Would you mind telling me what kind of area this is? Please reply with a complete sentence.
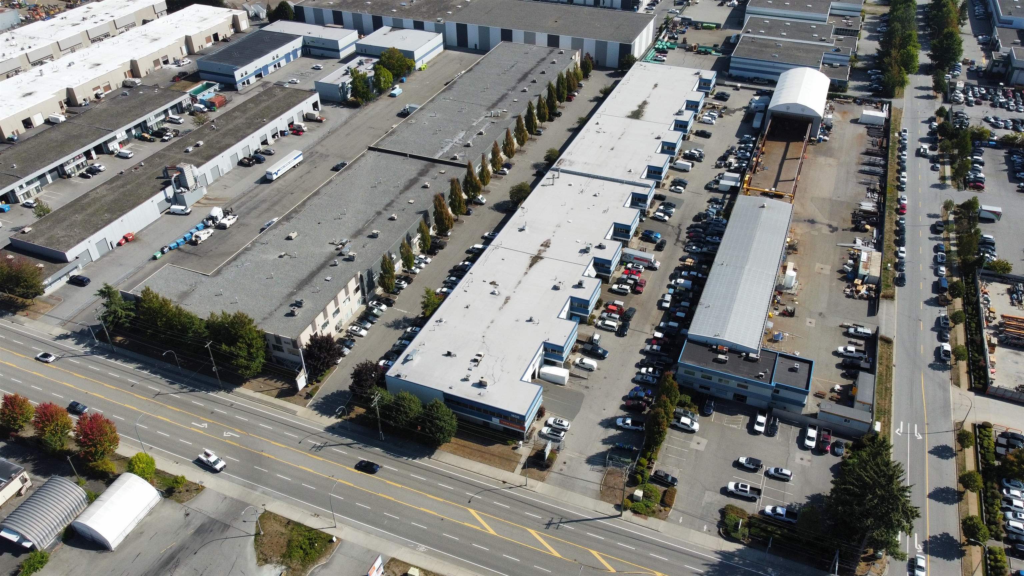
This image shows an industrial area.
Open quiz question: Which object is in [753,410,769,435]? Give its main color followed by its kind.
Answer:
white vehicle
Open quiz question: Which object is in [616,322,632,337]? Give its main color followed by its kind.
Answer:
black car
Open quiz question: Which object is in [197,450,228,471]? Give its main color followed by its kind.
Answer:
white truck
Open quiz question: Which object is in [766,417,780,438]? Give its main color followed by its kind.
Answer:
black car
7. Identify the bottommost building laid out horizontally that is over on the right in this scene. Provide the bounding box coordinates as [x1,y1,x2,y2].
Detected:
[819,398,874,432]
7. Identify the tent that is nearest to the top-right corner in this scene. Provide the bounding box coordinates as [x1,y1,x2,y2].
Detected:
[859,106,888,123]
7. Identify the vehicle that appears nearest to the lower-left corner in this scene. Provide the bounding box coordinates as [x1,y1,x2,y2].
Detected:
[66,400,91,416]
